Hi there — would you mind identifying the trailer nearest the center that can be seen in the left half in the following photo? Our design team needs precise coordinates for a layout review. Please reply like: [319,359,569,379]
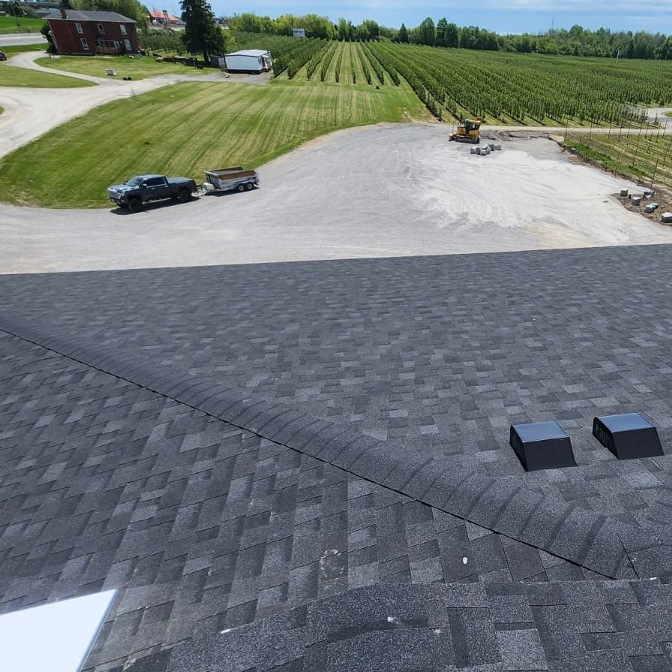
[196,165,260,192]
